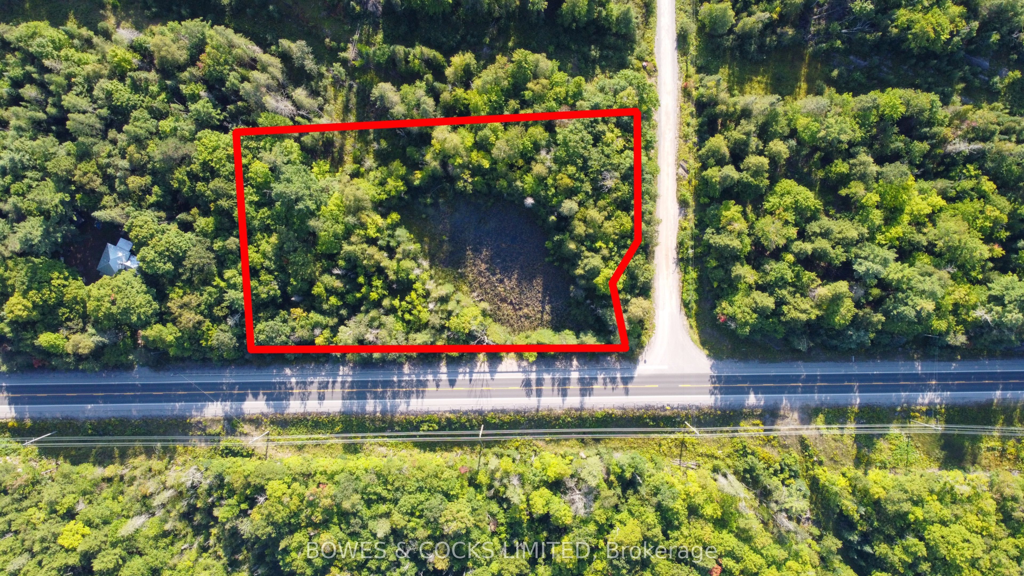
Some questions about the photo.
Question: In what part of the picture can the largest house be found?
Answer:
left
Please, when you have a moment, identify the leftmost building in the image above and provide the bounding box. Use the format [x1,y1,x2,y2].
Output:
[97,238,143,279]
